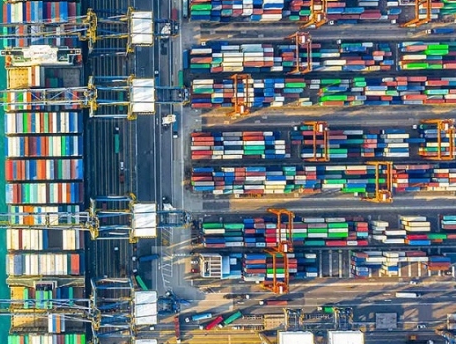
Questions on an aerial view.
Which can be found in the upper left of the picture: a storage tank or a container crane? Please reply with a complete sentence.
It is a container crane that can be seen in the upper left of the picture.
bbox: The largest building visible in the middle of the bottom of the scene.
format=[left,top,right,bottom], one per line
[202,254,222,278]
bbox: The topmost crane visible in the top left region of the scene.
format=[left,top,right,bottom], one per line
[0,6,183,68]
